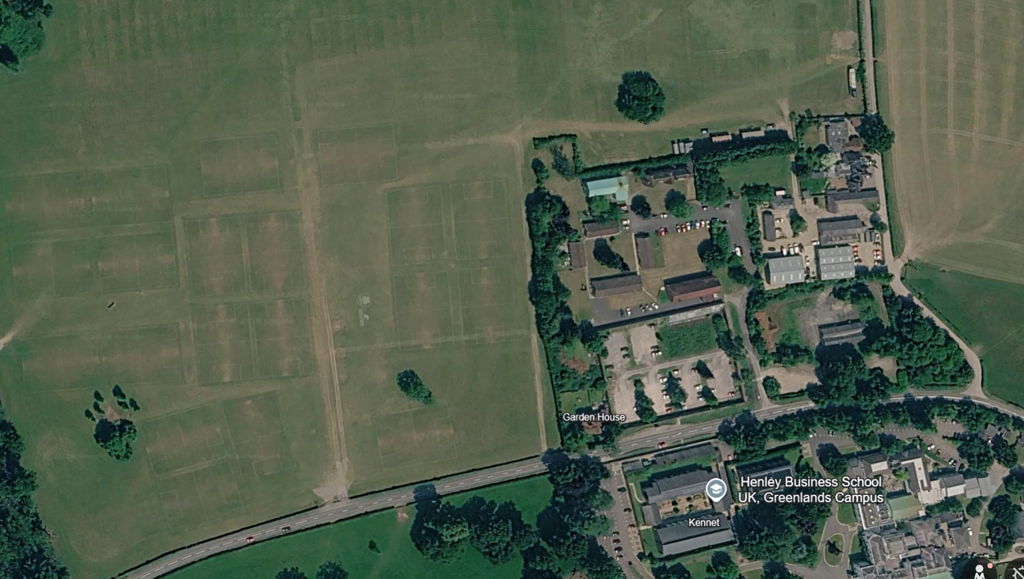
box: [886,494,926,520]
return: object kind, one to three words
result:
building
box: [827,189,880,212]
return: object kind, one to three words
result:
barn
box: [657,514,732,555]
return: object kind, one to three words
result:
building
